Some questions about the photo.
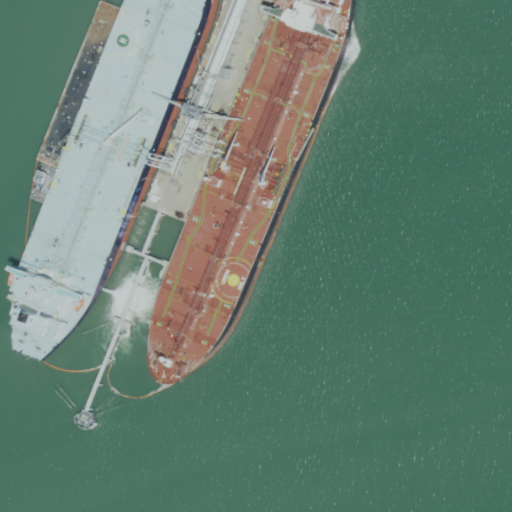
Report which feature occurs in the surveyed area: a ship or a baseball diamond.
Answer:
ship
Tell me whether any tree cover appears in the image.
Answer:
No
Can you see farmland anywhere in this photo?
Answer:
No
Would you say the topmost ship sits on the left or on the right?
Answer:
left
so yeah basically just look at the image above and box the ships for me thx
[4,0,220,360]
[146,0,353,385]
[37,1,120,167]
